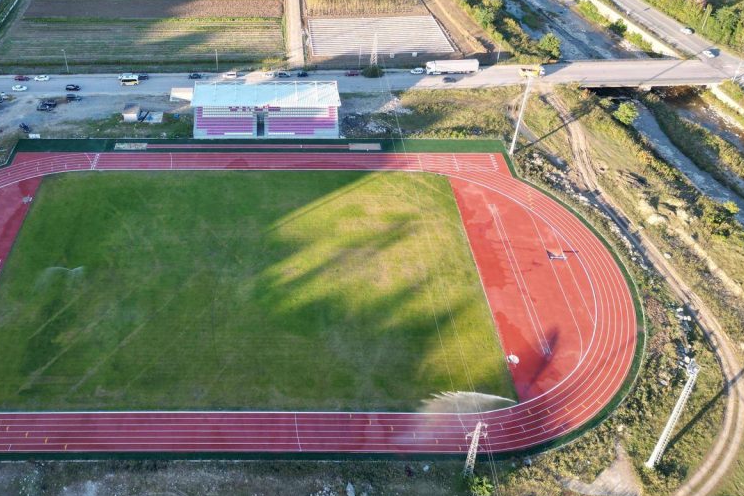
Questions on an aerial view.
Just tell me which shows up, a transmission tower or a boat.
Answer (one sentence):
I can see a transmission tower in this picture.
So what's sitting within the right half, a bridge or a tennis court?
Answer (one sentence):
What appears within the right half is a bridge.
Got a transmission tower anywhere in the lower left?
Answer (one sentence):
No, no transmission tower is visible in the lower left.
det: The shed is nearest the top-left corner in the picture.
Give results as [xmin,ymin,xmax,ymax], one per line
[119,101,138,122]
